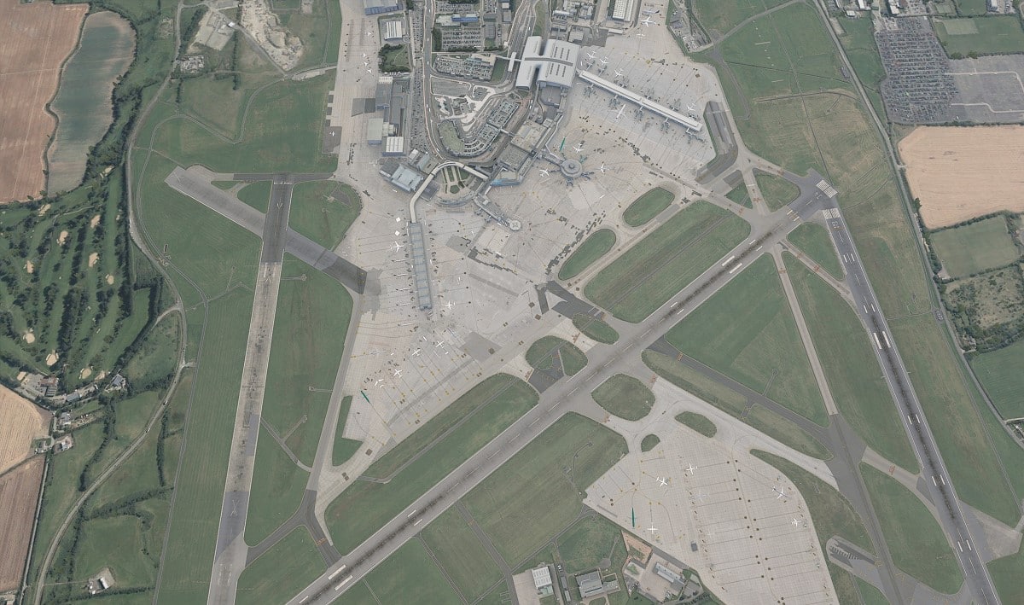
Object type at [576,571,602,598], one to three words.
building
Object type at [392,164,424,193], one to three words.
hangar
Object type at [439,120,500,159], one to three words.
building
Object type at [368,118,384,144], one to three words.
hangar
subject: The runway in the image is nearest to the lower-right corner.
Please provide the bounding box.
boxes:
[818,209,1005,605]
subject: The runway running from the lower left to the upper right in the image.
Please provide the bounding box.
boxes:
[290,183,831,605]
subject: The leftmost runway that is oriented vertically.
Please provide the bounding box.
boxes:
[207,176,294,605]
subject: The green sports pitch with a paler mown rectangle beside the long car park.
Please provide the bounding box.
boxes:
[933,15,1024,56]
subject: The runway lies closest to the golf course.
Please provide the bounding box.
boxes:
[165,166,366,294]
